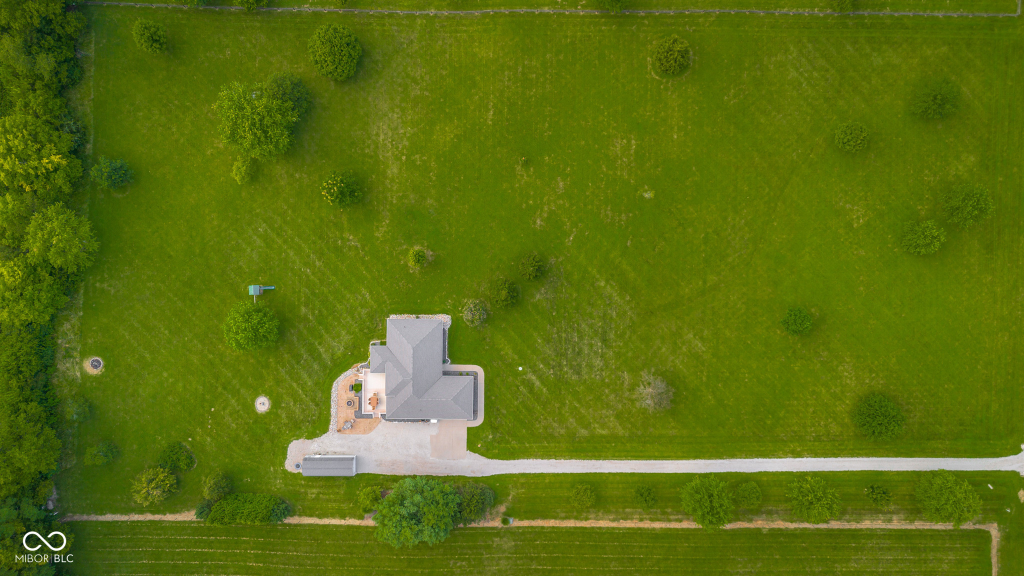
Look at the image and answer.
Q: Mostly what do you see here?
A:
grass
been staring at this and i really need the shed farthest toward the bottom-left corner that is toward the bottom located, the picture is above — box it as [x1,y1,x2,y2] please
[300,455,357,477]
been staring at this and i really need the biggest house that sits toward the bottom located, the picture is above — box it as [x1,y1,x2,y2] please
[370,318,474,420]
